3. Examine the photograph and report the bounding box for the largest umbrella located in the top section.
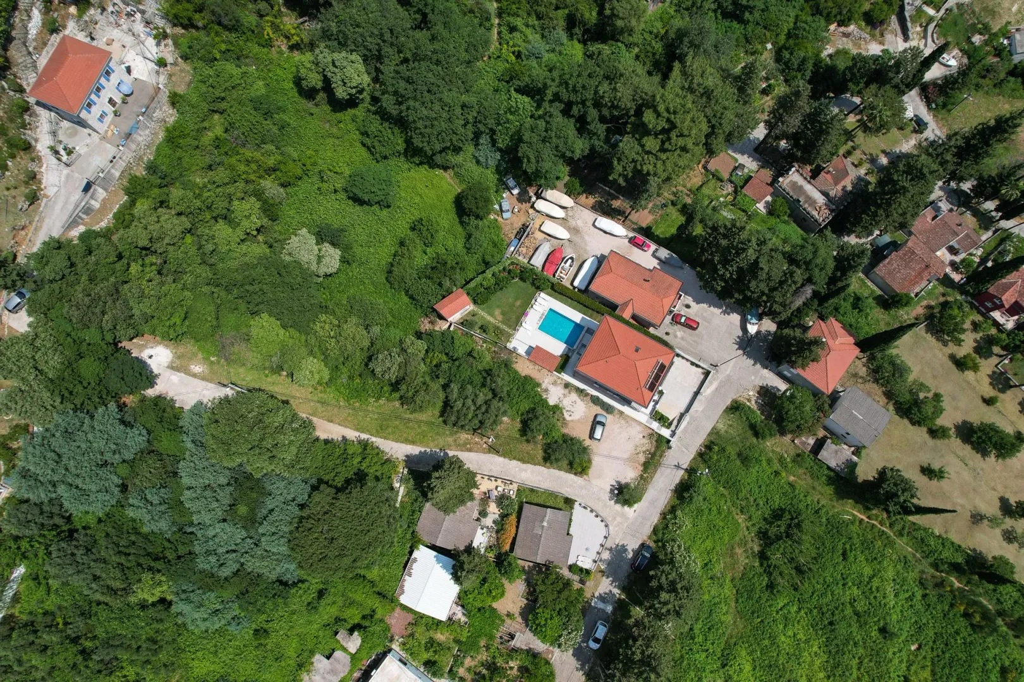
[120,83,136,98]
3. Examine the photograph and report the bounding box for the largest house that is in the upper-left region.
[27,34,131,131]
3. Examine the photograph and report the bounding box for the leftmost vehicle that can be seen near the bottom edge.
[586,621,608,649]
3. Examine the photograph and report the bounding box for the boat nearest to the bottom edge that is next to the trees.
[744,308,760,333]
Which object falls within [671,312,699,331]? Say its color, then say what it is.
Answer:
red car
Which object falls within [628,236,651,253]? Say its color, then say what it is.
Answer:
pink car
